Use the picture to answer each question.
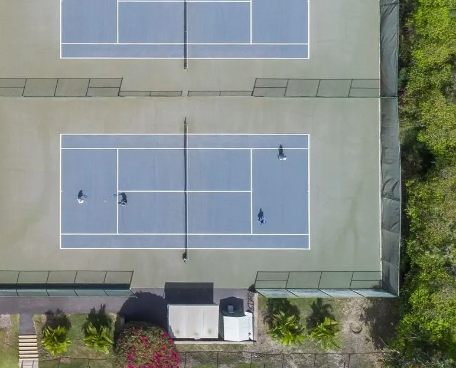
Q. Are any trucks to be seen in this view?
No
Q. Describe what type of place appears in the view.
sports ground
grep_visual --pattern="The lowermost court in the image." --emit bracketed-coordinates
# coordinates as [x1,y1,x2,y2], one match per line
[0,97,382,289]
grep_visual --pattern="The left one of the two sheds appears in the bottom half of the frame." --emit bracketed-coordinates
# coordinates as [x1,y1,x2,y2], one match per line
[164,300,219,339]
